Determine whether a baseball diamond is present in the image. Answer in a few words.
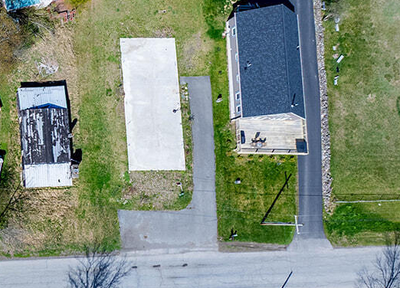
No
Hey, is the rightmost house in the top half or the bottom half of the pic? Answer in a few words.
top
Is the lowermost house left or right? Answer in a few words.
left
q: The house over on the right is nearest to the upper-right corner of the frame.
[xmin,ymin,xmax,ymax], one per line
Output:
[222,8,310,153]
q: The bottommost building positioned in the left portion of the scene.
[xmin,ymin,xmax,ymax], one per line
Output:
[16,86,80,186]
